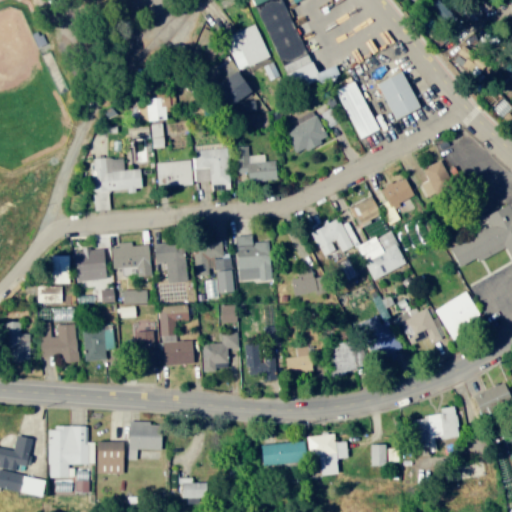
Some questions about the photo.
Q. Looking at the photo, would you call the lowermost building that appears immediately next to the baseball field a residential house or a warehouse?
residential house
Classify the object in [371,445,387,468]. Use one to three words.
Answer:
barn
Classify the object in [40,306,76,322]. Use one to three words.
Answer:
greenhouse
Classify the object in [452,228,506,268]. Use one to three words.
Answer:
building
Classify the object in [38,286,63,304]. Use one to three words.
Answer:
house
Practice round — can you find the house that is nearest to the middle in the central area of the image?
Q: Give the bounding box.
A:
[237,235,272,284]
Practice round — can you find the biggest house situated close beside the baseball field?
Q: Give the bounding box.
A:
[92,158,143,212]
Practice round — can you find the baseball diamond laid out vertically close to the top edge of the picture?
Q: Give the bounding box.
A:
[0,2,72,170]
